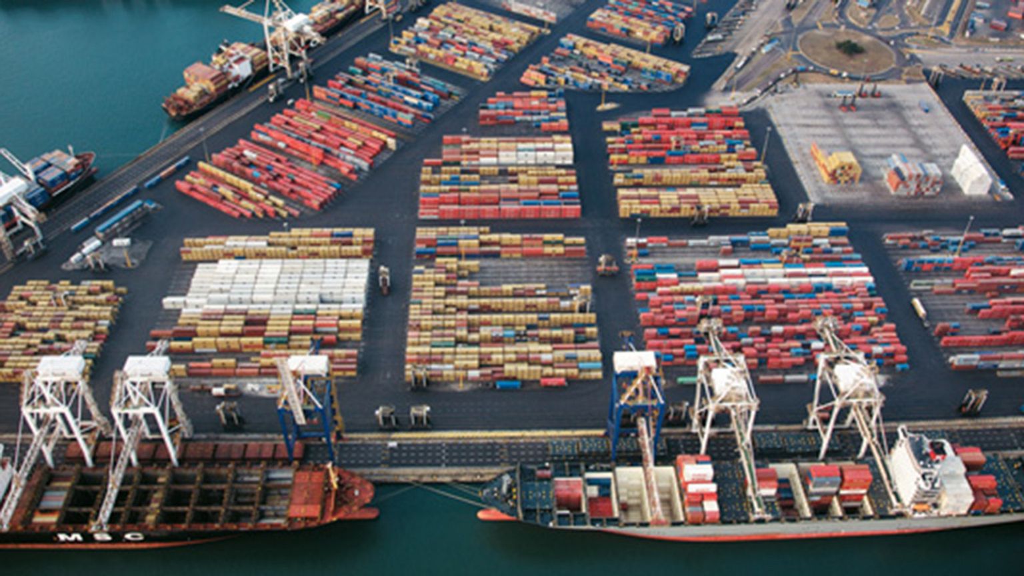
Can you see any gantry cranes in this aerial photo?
Yes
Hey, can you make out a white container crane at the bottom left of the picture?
Yes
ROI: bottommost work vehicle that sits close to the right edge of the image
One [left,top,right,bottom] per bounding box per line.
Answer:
[968,386,989,418]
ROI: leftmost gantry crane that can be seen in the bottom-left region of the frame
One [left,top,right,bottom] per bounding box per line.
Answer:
[0,339,117,500]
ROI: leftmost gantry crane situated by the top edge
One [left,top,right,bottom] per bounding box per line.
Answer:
[226,0,332,86]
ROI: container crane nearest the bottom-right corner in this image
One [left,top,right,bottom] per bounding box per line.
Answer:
[785,312,896,485]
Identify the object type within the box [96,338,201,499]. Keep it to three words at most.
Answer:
container crane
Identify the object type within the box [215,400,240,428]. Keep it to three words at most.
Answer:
work vehicle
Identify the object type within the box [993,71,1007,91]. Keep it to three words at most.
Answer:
work vehicle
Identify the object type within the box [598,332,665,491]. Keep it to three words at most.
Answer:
container crane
